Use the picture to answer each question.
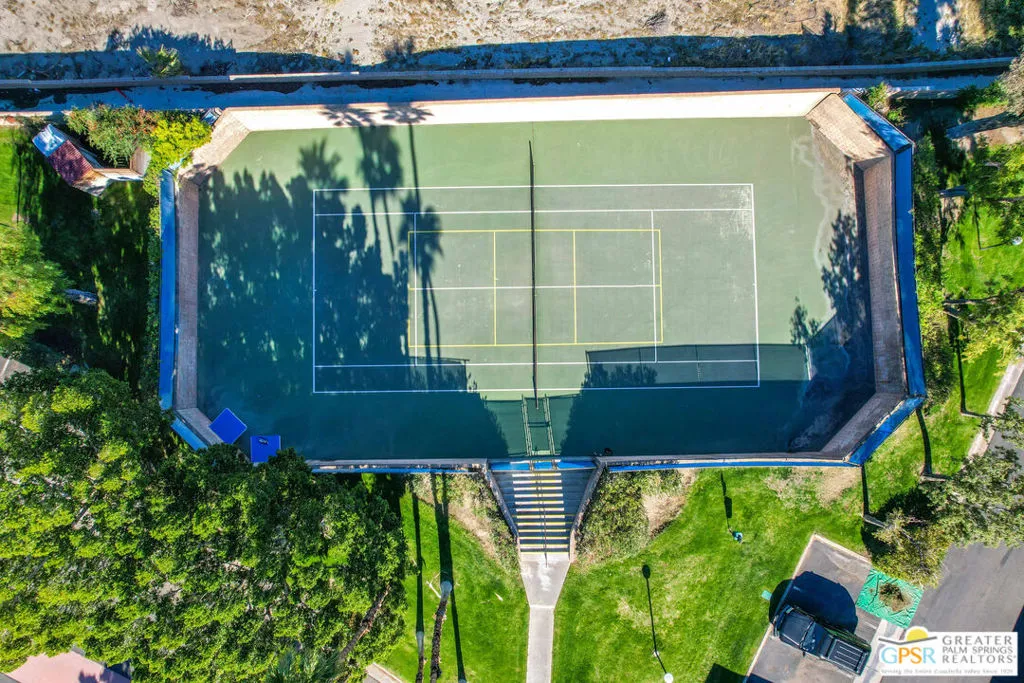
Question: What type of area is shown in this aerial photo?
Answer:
sports ground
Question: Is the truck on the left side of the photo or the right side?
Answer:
right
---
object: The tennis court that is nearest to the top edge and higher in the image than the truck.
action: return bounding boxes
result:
[197,117,875,462]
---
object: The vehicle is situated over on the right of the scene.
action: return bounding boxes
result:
[764,601,875,683]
